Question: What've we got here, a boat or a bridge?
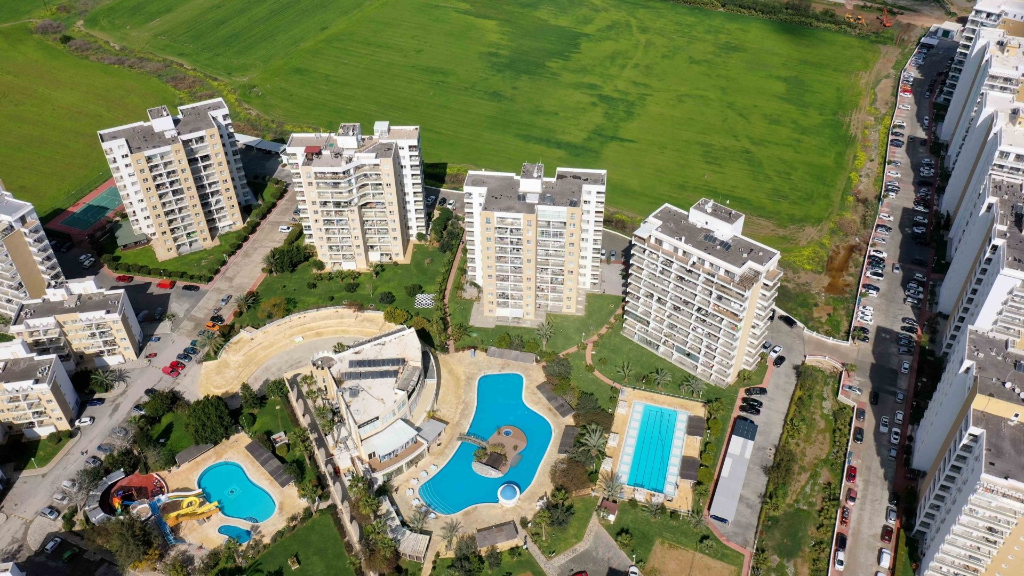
bridge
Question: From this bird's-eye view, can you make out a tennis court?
Yes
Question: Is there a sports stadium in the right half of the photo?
No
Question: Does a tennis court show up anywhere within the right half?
No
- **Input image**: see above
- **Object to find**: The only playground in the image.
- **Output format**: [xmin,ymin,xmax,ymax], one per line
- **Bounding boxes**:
[109,473,165,515]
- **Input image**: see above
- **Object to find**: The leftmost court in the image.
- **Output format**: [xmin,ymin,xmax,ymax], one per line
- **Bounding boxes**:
[52,175,128,244]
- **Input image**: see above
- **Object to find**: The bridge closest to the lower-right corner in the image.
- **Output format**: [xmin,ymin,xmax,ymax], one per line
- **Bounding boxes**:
[804,329,849,373]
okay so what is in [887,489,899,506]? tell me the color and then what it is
black vehicle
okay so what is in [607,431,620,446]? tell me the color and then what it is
white gazebo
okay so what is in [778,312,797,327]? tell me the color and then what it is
black vehicle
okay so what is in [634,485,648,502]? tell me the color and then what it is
white gazebo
